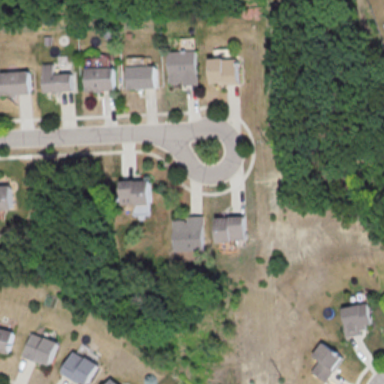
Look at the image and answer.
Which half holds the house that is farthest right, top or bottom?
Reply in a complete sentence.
You can find the house that is farthest right in the bottom half.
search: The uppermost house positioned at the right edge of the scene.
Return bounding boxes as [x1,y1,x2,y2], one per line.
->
[342,304,372,340]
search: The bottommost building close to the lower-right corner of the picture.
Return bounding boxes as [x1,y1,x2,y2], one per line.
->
[308,341,343,382]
